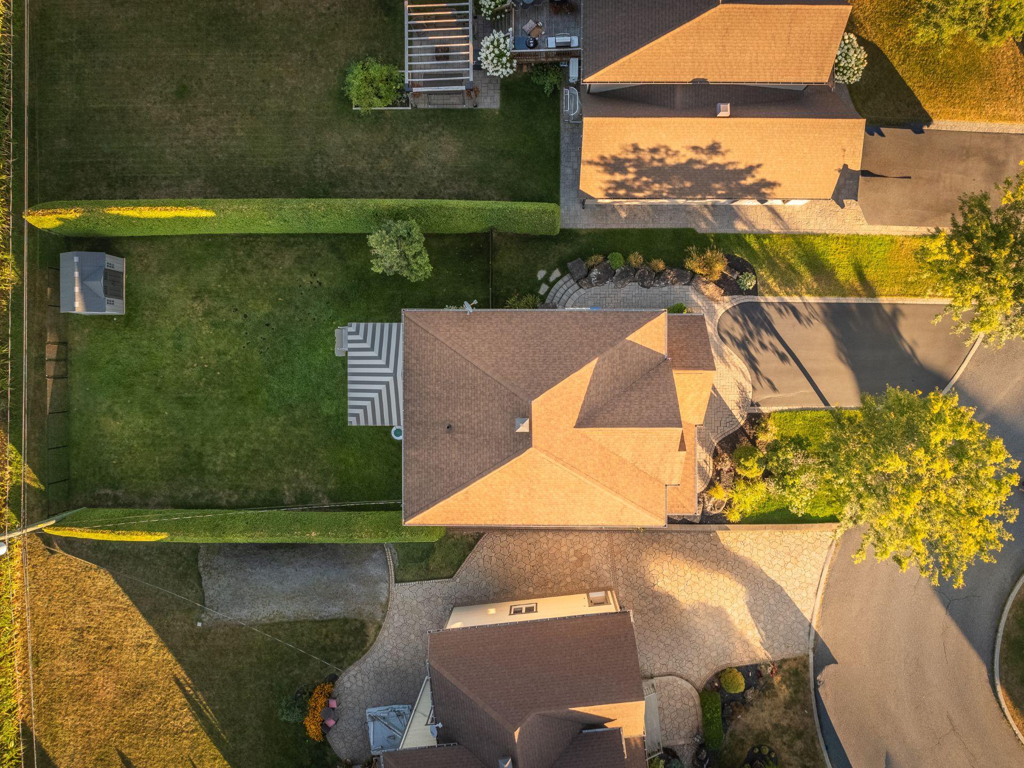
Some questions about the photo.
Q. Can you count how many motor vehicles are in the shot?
0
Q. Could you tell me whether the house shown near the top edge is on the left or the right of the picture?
right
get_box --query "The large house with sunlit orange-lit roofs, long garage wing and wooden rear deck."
[579,0,864,203]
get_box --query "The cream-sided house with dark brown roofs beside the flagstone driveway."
[379,589,650,768]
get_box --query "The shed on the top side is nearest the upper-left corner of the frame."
[56,251,126,313]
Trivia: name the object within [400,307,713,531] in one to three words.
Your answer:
house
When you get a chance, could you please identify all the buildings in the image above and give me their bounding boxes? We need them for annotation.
[56,251,126,313]
[379,589,650,768]
[579,0,864,203]
[400,307,713,531]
